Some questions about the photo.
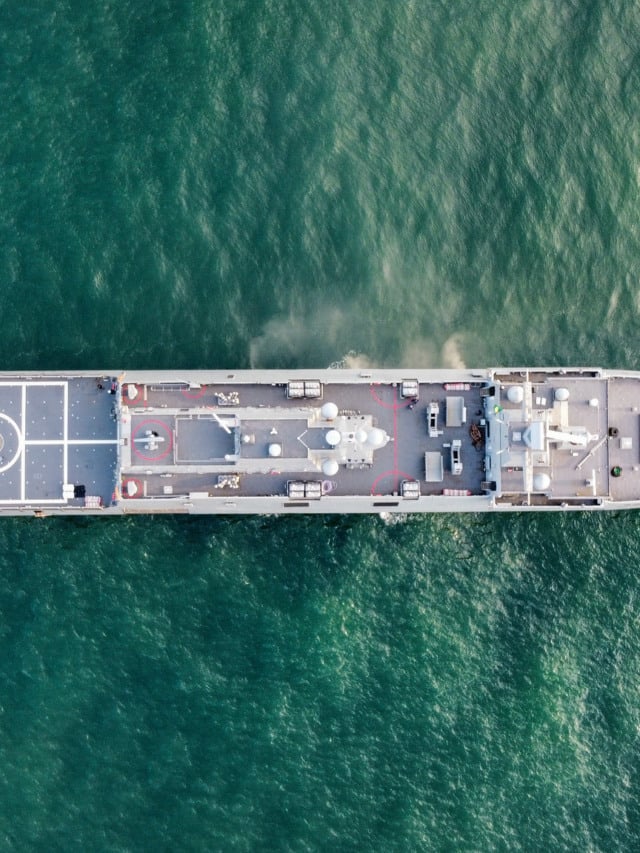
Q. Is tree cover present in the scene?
No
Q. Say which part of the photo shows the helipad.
left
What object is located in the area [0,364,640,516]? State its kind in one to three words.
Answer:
ship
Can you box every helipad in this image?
[0,375,116,509]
